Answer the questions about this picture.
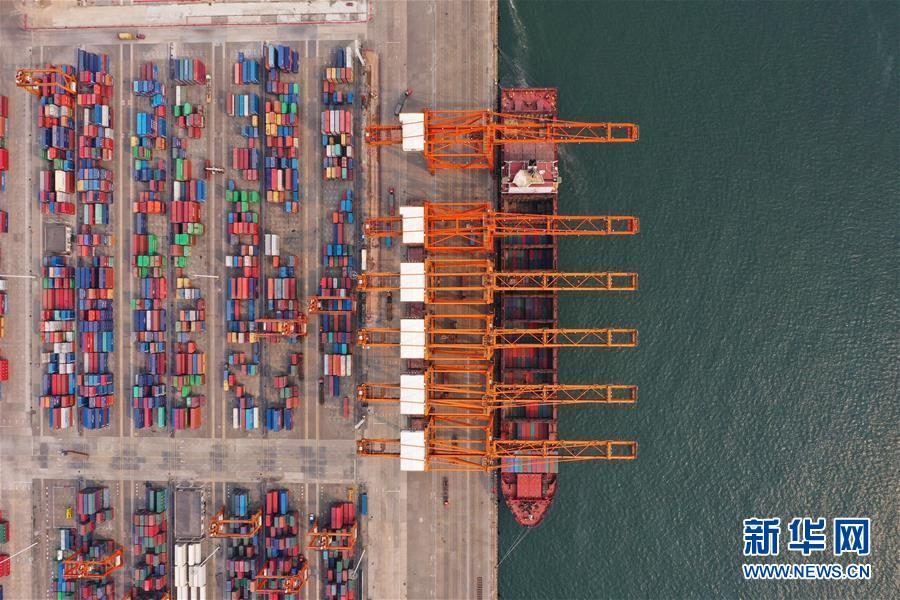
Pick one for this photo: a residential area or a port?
port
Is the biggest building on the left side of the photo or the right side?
left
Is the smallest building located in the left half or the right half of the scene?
left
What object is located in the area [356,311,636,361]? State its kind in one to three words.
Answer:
container crane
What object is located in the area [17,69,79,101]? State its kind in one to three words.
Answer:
container crane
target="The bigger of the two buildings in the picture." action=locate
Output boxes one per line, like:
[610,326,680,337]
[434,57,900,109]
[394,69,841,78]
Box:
[174,483,207,538]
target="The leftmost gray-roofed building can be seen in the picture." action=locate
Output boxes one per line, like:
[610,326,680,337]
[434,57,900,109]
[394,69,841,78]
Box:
[45,224,71,253]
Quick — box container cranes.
[17,69,79,101]
[356,311,636,361]
[308,293,358,317]
[356,258,636,307]
[356,361,636,418]
[60,543,124,579]
[256,314,308,339]
[364,201,638,256]
[356,410,635,474]
[308,516,358,551]
[256,556,308,593]
[209,505,266,539]
[364,109,638,174]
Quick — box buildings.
[174,483,207,538]
[45,224,71,253]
